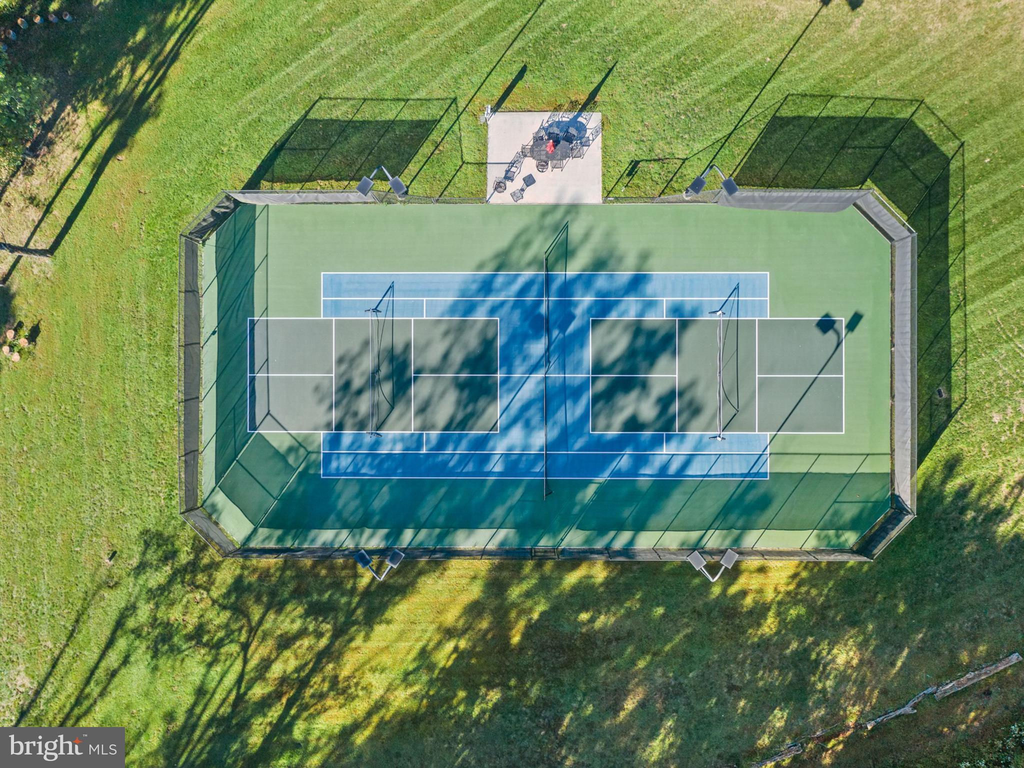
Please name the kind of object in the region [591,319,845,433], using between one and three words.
sports court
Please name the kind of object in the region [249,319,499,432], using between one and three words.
sports court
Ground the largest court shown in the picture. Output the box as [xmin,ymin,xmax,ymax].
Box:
[202,204,893,549]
